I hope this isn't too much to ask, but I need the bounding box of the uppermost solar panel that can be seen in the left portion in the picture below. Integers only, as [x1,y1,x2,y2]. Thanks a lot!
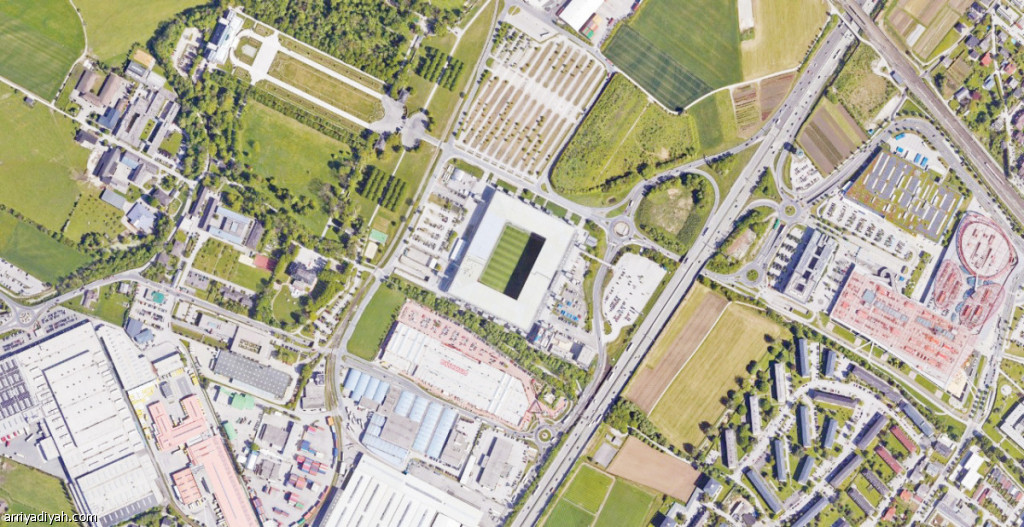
[0,359,31,415]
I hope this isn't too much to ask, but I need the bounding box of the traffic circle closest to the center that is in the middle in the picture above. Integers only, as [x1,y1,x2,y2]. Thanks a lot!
[607,215,635,243]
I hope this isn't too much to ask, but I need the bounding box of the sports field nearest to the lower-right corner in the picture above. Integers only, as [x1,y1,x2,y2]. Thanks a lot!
[597,480,656,527]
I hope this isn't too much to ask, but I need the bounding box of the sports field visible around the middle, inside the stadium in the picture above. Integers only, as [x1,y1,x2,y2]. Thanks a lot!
[479,223,545,300]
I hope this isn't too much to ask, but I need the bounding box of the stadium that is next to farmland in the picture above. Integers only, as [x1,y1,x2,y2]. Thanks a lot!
[448,189,579,335]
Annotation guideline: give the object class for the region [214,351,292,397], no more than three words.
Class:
building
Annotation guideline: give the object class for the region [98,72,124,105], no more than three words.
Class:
barn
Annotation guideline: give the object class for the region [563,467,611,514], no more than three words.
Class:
sports field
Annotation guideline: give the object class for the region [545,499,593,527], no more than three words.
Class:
sports field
